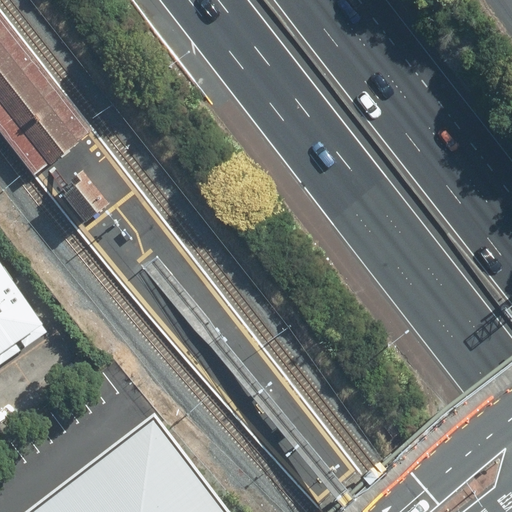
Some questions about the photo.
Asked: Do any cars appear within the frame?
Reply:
Yes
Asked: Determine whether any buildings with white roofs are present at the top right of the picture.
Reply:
No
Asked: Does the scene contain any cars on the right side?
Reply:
Yes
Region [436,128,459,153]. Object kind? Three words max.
car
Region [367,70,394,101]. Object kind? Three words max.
car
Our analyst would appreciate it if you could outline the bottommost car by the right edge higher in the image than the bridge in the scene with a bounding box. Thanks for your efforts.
[476,246,502,275]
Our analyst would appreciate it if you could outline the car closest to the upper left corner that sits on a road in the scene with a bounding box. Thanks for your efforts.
[194,0,218,22]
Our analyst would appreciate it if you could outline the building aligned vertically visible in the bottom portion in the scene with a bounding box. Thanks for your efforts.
[0,256,48,365]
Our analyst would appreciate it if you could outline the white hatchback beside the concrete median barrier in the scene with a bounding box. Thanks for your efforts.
[356,90,382,120]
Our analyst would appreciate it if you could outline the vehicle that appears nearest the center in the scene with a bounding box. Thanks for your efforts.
[310,140,334,168]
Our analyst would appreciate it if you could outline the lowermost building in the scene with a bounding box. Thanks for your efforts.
[26,412,232,512]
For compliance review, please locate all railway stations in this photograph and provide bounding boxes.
[0,46,362,508]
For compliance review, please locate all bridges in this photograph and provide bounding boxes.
[336,360,512,512]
